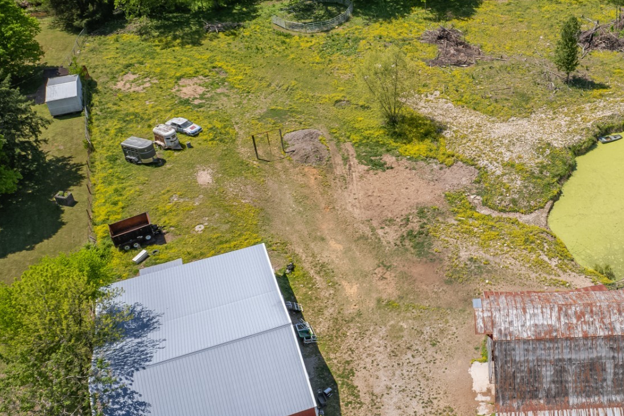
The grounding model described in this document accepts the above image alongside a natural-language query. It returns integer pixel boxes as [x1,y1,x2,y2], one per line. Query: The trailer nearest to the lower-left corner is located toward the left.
[108,213,170,247]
